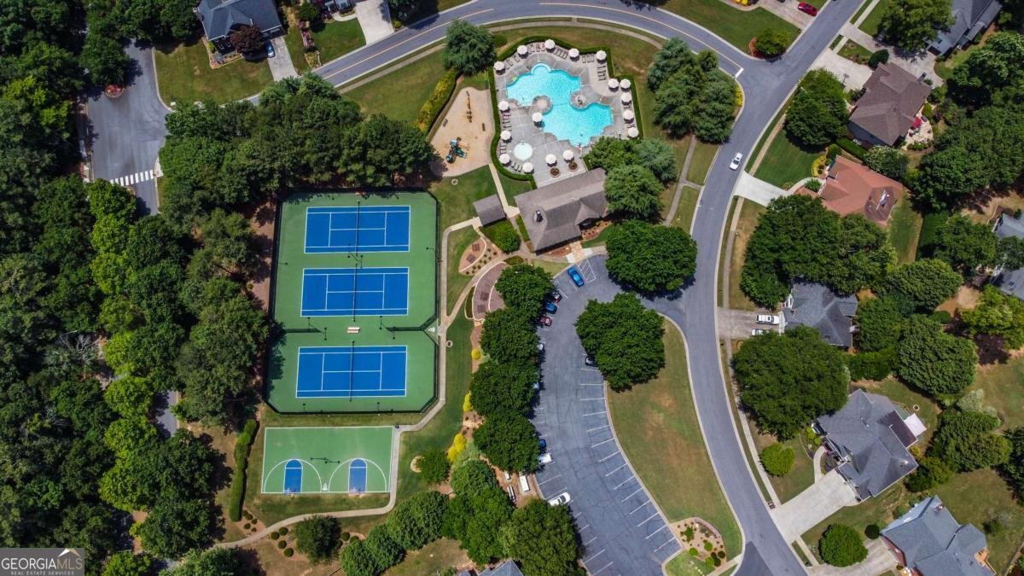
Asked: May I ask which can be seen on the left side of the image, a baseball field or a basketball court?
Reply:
basketball court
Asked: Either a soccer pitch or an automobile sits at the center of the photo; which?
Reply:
automobile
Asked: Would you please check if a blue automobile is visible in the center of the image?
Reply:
Yes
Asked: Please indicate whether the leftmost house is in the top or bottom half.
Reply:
top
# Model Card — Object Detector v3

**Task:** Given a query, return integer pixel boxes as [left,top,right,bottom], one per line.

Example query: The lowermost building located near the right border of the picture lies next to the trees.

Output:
[877,496,997,576]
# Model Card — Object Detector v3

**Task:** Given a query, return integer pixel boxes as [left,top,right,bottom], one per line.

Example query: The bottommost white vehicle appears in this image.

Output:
[548,491,571,507]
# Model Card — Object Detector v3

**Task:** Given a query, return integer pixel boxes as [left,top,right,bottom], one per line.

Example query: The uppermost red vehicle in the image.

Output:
[799,1,818,14]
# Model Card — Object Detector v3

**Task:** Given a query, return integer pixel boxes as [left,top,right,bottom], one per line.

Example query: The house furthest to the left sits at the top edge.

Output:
[195,0,284,55]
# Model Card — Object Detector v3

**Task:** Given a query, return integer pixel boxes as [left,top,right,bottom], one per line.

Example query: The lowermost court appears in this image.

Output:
[260,426,393,494]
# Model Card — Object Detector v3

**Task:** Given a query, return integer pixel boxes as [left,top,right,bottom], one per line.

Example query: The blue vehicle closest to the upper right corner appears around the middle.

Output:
[568,267,585,287]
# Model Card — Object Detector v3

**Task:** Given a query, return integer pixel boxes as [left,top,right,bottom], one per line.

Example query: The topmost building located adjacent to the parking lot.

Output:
[515,171,611,254]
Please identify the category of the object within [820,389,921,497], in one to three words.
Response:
house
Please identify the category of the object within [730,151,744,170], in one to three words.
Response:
car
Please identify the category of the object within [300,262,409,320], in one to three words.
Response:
tennis court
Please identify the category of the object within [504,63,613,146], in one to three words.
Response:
swimming pool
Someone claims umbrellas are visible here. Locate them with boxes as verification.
[620,79,631,90]
[621,93,632,104]
[517,45,528,56]
[563,150,574,161]
[568,48,579,59]
[498,101,509,111]
[522,162,533,173]
[498,154,510,165]
[595,50,606,61]
[501,131,512,142]
[627,127,639,138]
[910,117,923,129]
[546,155,557,166]
[494,62,505,73]
[544,40,555,51]
[532,112,543,123]
[622,110,634,121]
[608,78,619,90]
